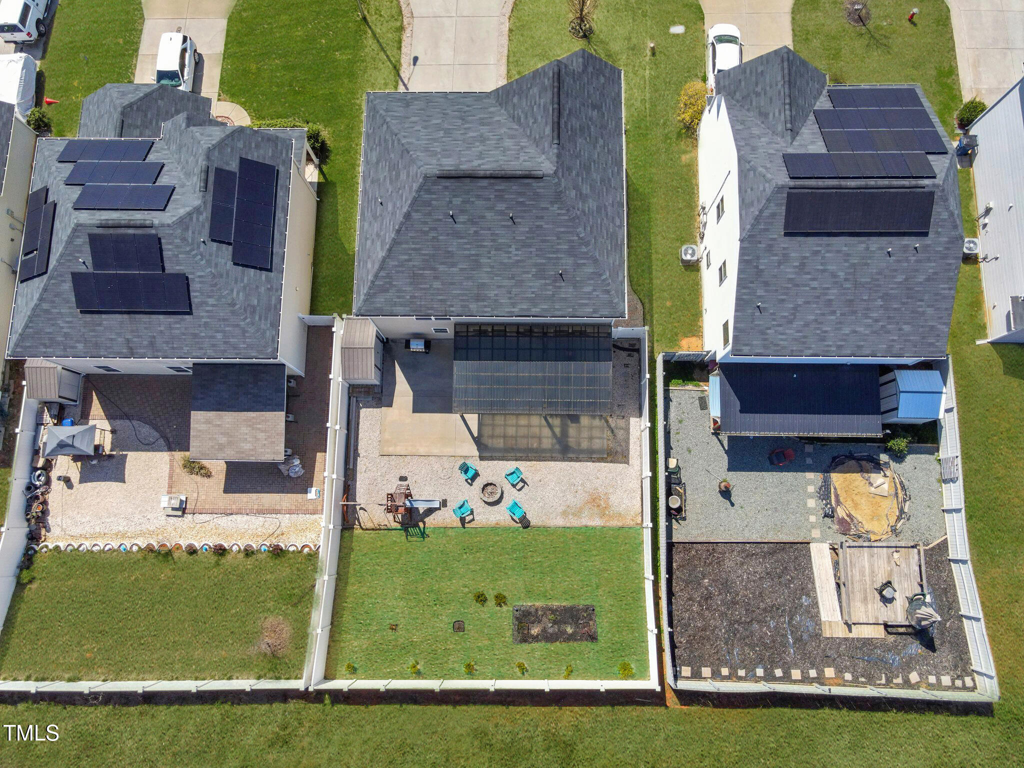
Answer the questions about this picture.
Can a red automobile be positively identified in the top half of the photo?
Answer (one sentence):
No, there's no red automobile to be seen in the top half of the photo.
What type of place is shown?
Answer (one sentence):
This image shows a residential area.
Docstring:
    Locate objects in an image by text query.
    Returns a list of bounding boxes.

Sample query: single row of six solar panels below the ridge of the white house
[784,190,934,231]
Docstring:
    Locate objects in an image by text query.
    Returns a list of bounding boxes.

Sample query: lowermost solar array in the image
[71,234,190,311]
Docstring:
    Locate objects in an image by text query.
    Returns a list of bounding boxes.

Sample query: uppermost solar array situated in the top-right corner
[782,88,948,177]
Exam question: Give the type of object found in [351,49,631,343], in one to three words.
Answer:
house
